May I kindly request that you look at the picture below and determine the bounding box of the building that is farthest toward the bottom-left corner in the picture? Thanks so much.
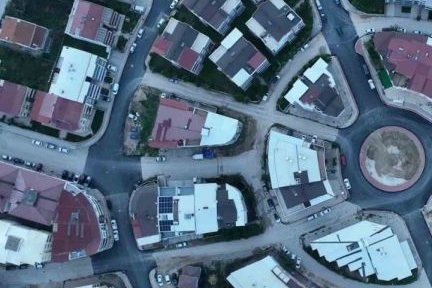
[0,216,51,266]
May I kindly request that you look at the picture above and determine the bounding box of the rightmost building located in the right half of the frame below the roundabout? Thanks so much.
[309,218,417,282]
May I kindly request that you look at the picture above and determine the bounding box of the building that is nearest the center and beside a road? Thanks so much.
[200,112,243,147]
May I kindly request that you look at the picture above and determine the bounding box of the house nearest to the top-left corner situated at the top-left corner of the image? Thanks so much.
[0,15,54,51]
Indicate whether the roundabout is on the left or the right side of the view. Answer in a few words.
right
